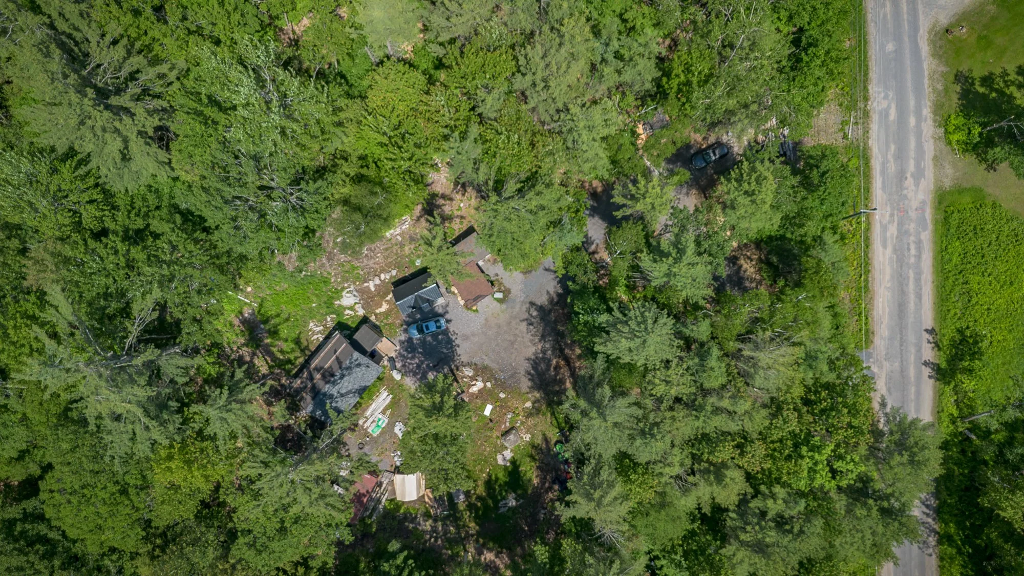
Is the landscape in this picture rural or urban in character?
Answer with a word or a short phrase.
rural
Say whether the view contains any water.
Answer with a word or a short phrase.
No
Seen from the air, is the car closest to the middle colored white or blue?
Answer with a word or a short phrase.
blue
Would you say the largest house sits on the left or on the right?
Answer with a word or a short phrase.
left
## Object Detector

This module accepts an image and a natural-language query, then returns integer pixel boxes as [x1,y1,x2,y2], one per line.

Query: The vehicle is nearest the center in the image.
[406,315,449,339]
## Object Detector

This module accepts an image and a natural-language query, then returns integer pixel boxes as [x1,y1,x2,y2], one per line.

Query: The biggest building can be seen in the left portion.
[292,330,383,423]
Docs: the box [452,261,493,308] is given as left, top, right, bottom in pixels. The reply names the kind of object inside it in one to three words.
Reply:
shed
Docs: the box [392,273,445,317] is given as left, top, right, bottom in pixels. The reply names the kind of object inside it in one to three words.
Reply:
shed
